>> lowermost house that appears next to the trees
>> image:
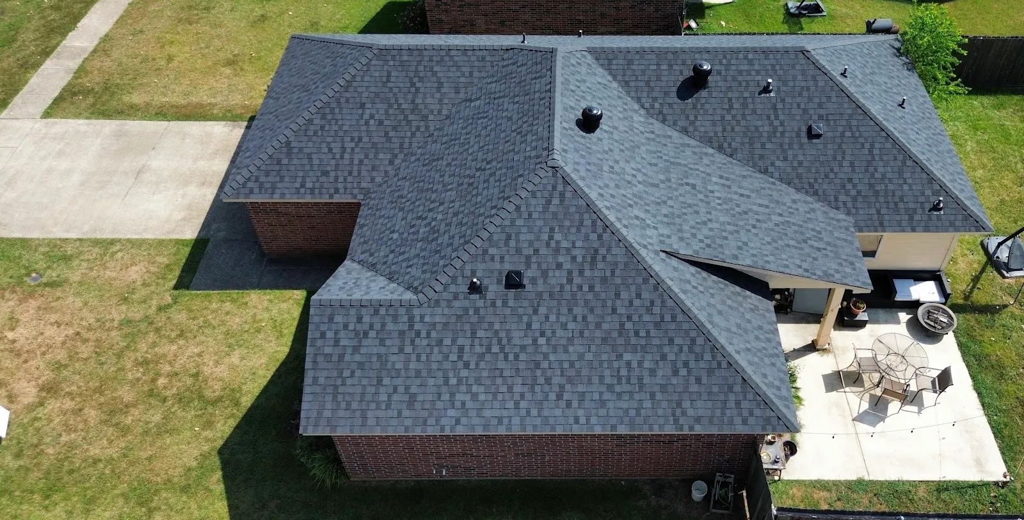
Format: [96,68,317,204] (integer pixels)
[220,27,995,485]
